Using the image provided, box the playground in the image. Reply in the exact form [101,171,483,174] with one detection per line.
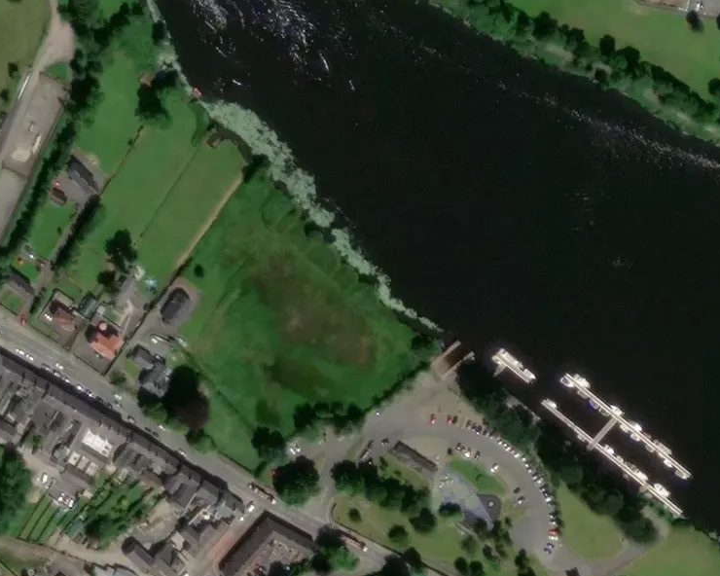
[440,463,501,529]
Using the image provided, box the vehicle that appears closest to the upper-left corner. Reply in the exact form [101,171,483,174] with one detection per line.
[17,74,30,100]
